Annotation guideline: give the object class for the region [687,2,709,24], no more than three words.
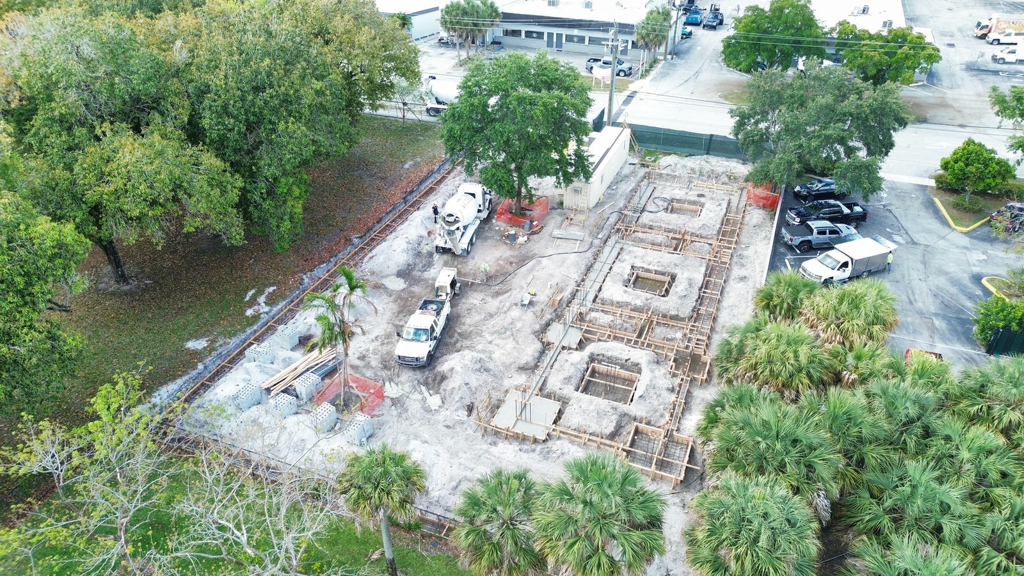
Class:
truck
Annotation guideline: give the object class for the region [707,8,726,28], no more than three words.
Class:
vehicle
